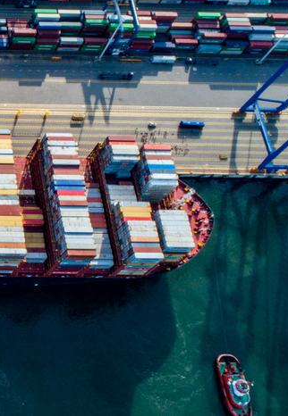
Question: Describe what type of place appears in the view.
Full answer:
This image shows a port.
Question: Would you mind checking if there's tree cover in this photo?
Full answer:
No, no tree cover is visible.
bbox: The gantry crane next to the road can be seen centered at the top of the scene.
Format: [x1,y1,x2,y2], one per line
[103,0,142,53]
